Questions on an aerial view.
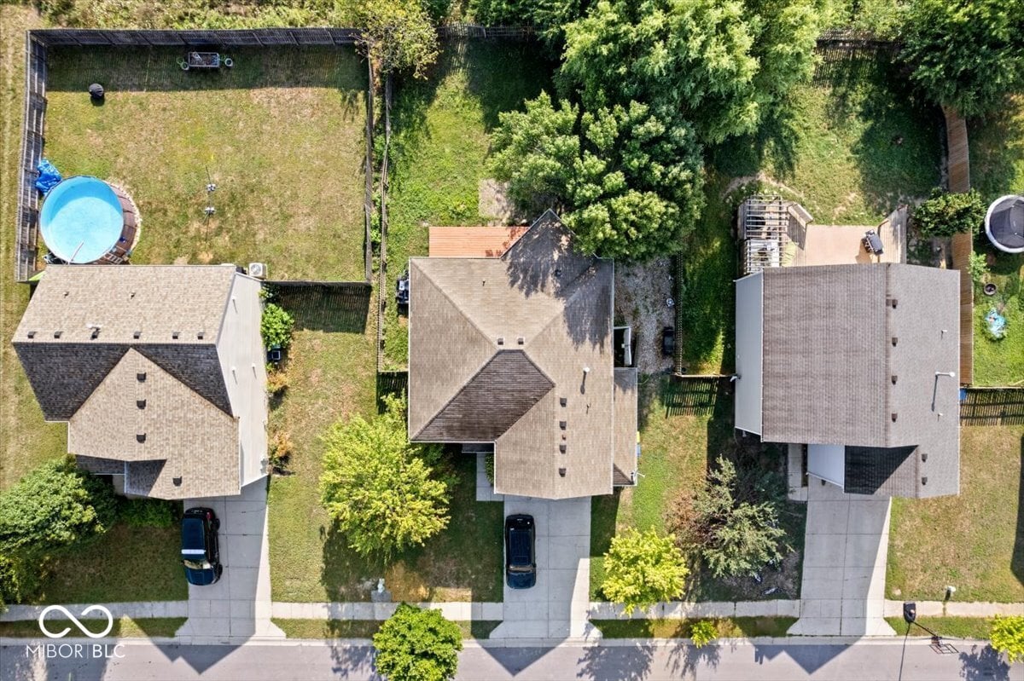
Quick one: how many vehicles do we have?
two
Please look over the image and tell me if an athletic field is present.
No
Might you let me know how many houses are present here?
3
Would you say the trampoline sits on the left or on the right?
right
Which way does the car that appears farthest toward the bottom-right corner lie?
from top to bottom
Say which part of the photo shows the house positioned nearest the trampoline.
right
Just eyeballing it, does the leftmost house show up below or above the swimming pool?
below it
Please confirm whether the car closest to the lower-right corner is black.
Yes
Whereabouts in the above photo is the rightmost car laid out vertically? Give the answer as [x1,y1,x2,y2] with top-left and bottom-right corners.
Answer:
[501,511,540,591]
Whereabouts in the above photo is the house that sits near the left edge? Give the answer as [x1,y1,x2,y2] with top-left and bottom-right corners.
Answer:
[14,262,269,501]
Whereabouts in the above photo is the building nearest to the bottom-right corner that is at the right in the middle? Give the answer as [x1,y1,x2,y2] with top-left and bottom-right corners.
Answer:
[723,263,961,502]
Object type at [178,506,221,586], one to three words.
car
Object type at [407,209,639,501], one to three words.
house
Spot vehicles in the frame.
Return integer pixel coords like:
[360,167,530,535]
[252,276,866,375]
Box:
[178,506,221,586]
[501,511,540,591]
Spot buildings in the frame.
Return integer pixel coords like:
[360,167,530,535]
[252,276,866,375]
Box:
[407,209,639,501]
[723,263,961,502]
[14,262,269,501]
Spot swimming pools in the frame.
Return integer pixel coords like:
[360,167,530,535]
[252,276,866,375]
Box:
[40,177,137,262]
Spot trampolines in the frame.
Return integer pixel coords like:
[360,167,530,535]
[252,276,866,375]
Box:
[976,193,1024,255]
